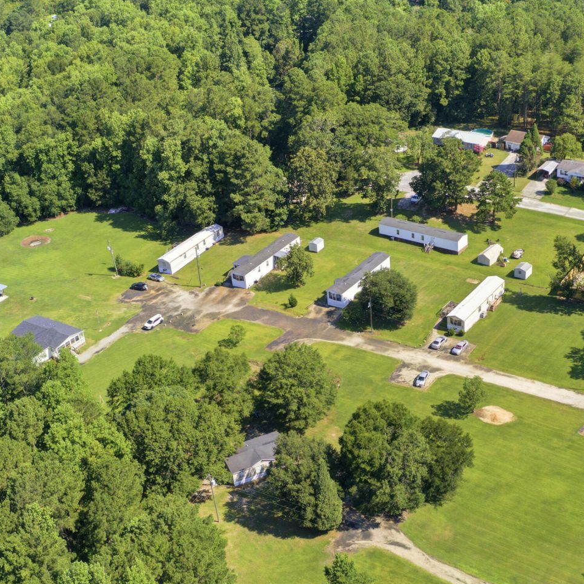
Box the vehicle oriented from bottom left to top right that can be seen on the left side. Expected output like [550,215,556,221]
[143,313,163,327]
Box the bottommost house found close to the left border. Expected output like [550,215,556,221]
[5,315,87,354]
